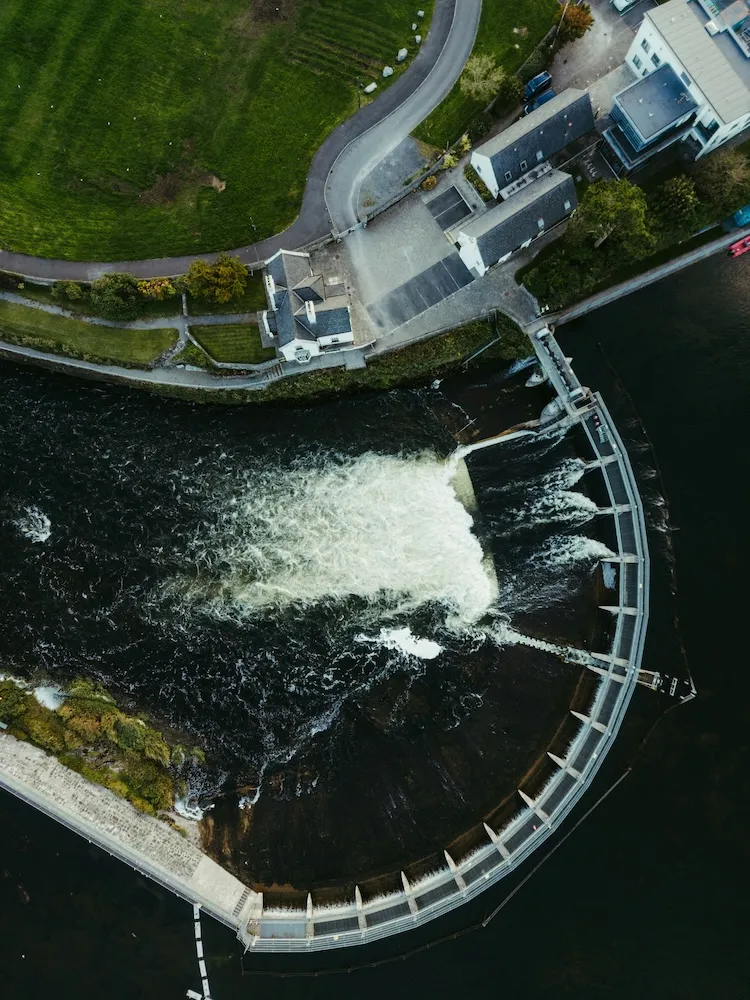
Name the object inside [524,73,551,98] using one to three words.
car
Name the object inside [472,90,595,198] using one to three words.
house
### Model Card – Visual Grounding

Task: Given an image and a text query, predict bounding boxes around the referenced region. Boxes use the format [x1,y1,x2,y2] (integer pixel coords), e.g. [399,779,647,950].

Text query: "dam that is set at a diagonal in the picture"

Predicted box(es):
[247,396,653,956]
